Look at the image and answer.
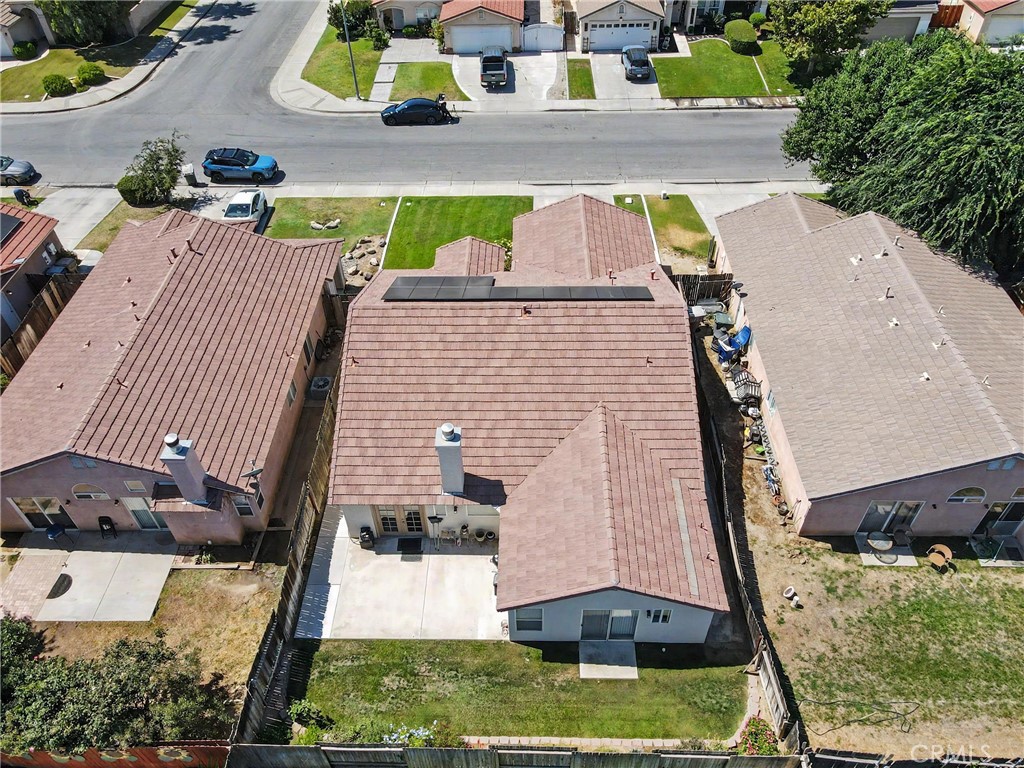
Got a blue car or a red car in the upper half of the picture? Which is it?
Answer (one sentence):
It is a blue car that can be seen in the upper half of the picture.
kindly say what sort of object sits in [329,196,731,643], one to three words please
house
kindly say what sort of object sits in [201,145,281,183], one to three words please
car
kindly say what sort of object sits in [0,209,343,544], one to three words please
house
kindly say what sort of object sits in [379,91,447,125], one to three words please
car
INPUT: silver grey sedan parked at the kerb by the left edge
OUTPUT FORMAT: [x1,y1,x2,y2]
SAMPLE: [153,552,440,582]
[0,155,40,186]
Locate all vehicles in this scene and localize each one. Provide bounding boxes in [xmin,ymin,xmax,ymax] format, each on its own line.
[481,43,512,84]
[619,45,649,76]
[201,145,281,183]
[216,190,268,231]
[379,91,447,125]
[0,155,40,186]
